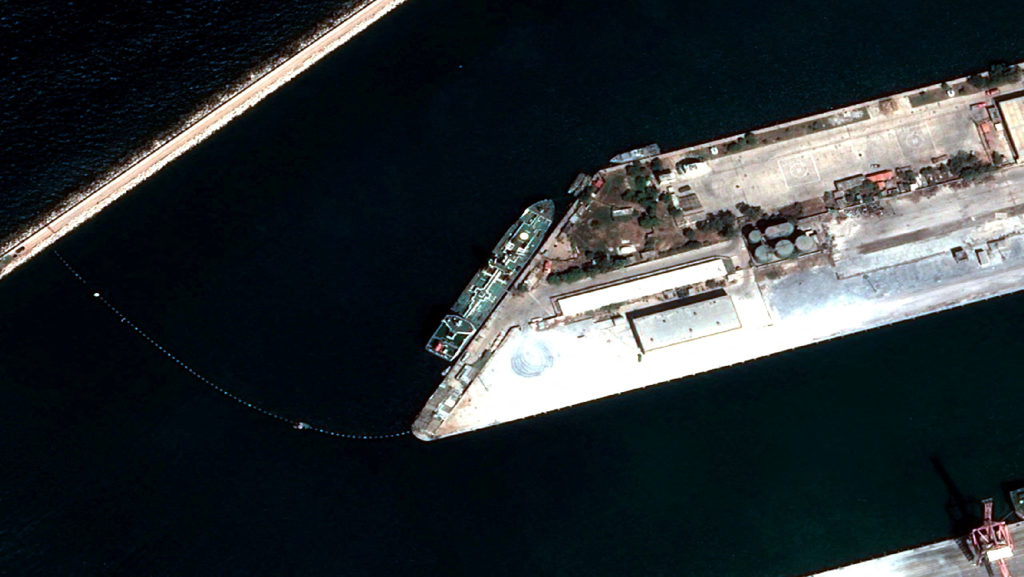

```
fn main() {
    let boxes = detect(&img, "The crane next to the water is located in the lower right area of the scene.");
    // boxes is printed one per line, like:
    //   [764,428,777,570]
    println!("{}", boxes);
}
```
[963,501,1013,577]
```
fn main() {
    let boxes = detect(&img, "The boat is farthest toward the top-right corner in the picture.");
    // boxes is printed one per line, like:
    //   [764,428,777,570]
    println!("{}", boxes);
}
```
[610,143,660,163]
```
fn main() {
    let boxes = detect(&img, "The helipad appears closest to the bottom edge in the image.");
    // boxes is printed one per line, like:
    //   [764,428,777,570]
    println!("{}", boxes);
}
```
[778,152,820,187]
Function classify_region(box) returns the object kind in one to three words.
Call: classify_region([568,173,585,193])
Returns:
boat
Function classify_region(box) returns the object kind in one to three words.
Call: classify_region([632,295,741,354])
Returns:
building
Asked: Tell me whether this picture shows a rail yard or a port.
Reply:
port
